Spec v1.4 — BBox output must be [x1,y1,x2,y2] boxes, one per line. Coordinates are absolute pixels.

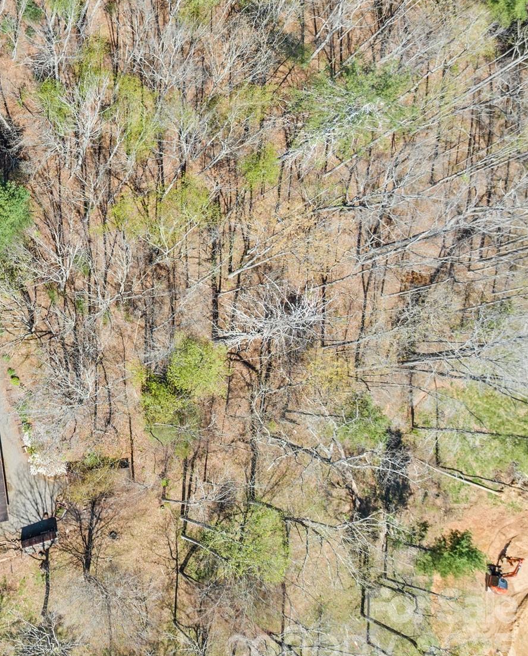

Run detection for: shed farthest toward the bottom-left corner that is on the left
[19,526,59,556]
